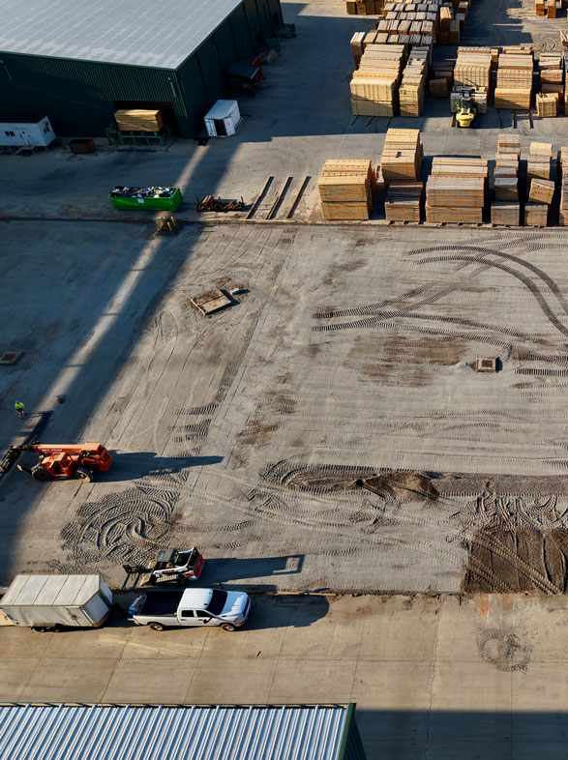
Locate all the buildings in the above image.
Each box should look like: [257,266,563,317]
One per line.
[0,694,365,760]
[0,0,281,140]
